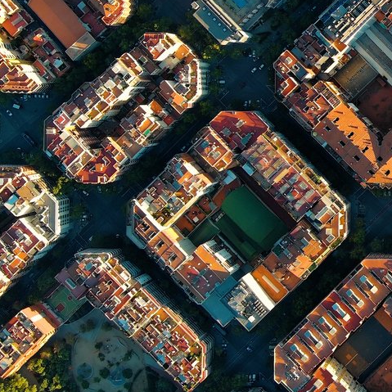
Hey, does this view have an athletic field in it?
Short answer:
Yes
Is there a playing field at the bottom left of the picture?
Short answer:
No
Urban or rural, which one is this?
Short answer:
urban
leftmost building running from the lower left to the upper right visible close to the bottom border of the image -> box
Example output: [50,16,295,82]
[0,296,73,377]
